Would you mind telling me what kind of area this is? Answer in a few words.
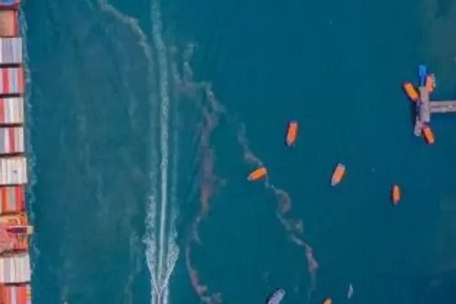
port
